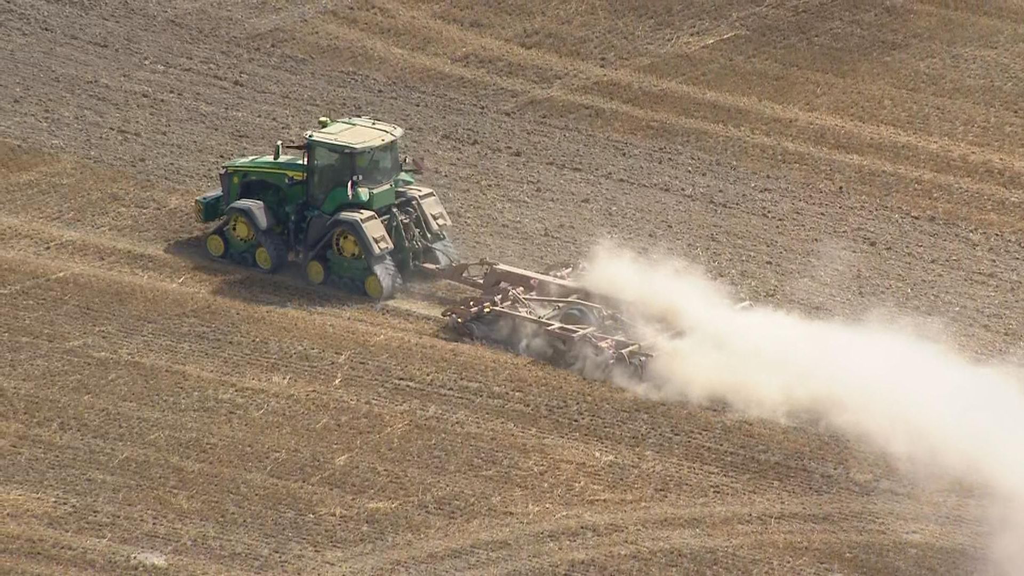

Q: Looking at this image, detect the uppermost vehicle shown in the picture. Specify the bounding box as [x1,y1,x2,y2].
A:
[199,115,464,303]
